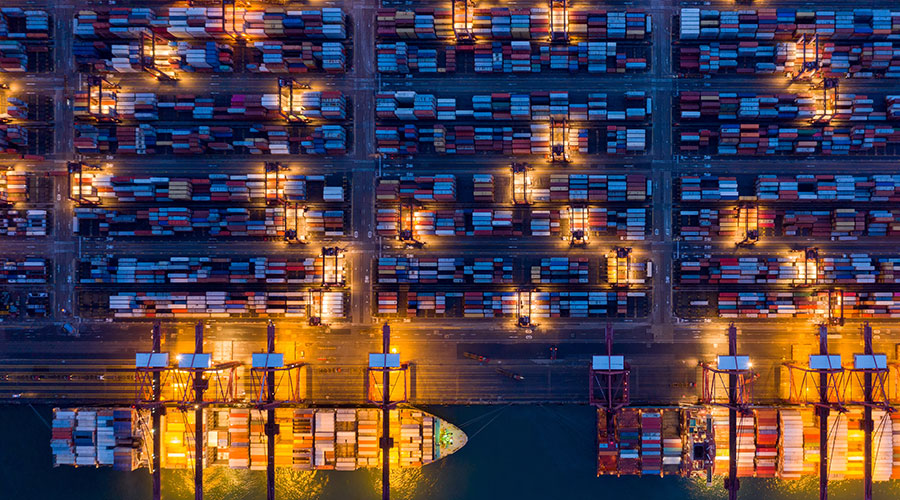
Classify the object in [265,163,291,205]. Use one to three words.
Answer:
container crane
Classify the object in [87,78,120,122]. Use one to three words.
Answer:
container crane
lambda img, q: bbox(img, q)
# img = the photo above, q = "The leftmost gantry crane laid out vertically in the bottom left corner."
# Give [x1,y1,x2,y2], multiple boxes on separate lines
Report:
[128,322,195,500]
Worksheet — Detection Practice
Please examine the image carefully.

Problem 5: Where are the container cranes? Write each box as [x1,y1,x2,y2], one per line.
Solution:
[817,287,843,326]
[67,163,99,205]
[173,322,246,500]
[795,248,819,286]
[784,322,845,500]
[584,322,631,441]
[128,322,195,500]
[452,0,475,42]
[365,322,422,500]
[794,34,818,80]
[265,163,291,205]
[831,322,889,500]
[323,248,348,286]
[278,78,304,122]
[308,287,333,326]
[514,287,536,326]
[141,34,171,80]
[284,203,309,243]
[511,163,533,205]
[87,78,120,122]
[221,0,250,42]
[567,203,588,243]
[249,322,313,500]
[398,203,421,243]
[548,118,570,162]
[611,248,633,286]
[811,78,837,122]
[700,322,754,500]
